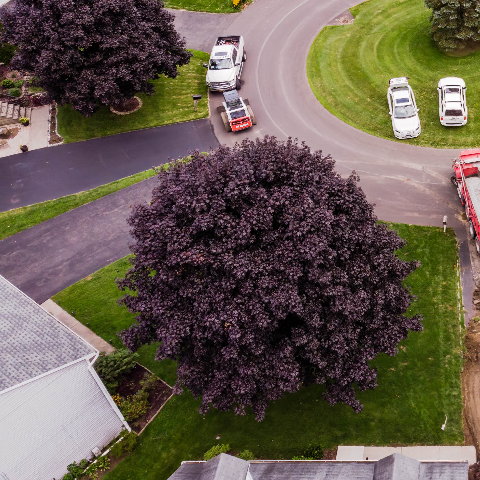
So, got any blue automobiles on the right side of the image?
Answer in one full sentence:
No, looking on the right side of the image, there is no blue automobile.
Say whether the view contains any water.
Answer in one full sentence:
No, water can't be seen anywhere here.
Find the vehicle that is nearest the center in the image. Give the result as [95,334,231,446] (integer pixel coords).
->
[213,89,257,137]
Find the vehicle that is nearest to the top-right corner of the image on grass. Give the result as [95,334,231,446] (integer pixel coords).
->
[437,78,468,124]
